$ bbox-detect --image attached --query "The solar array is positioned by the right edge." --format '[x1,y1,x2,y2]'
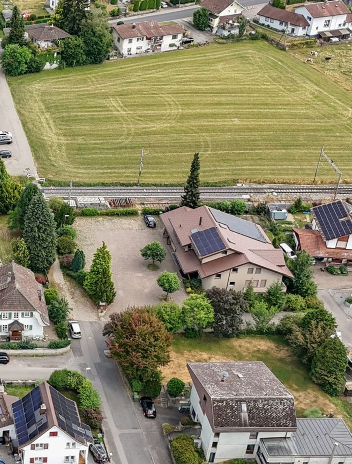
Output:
[318,196,352,243]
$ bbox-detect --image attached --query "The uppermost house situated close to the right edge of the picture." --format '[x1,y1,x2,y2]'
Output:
[289,0,352,36]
